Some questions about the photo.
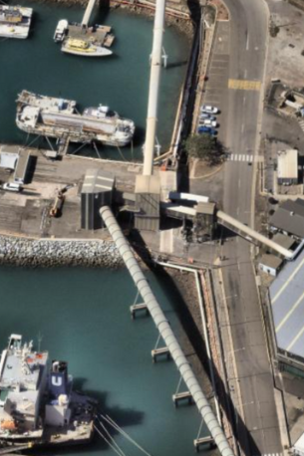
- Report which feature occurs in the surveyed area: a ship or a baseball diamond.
ship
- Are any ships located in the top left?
Yes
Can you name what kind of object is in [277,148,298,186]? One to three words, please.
building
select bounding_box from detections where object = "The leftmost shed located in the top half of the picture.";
[15,147,31,186]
